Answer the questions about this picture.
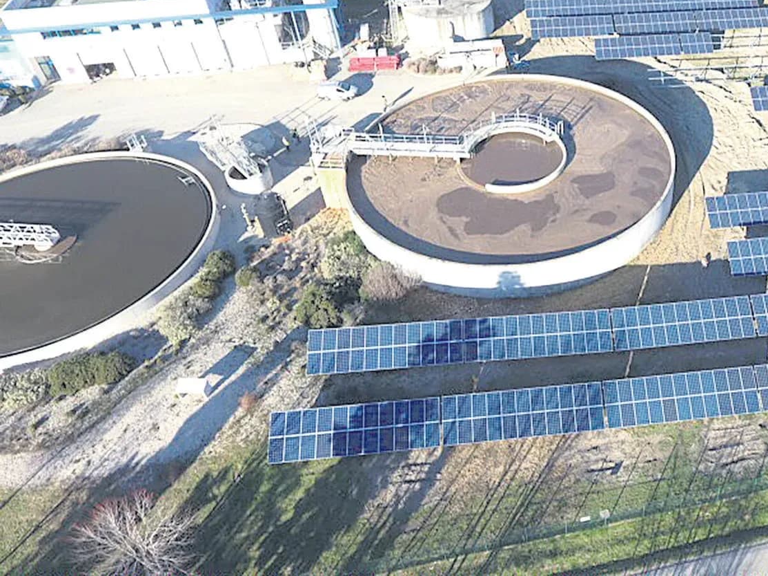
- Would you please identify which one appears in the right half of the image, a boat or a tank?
tank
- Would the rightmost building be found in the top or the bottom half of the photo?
top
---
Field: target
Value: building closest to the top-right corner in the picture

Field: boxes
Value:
[440,27,511,68]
